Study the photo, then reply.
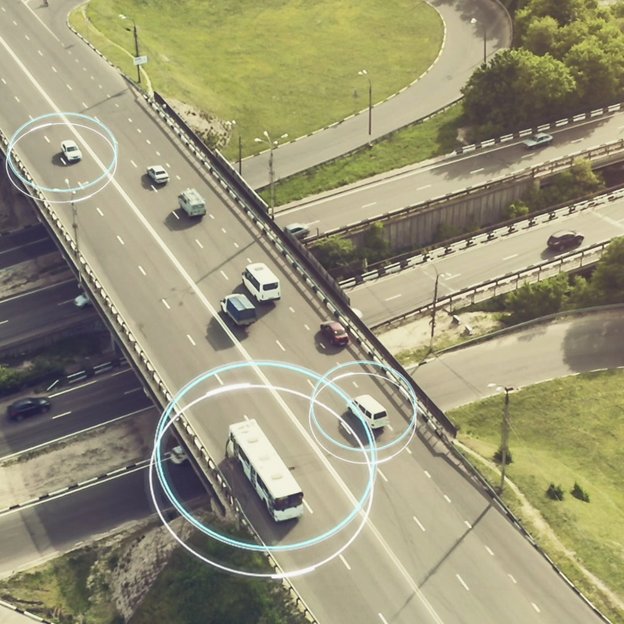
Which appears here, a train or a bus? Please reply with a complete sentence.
The image shows a bus.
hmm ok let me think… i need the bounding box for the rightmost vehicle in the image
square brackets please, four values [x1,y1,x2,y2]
[547,231,584,251]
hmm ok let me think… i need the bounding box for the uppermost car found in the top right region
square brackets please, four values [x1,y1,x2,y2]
[523,133,554,149]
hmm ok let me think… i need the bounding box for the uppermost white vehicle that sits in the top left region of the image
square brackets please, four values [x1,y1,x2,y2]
[61,142,82,161]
